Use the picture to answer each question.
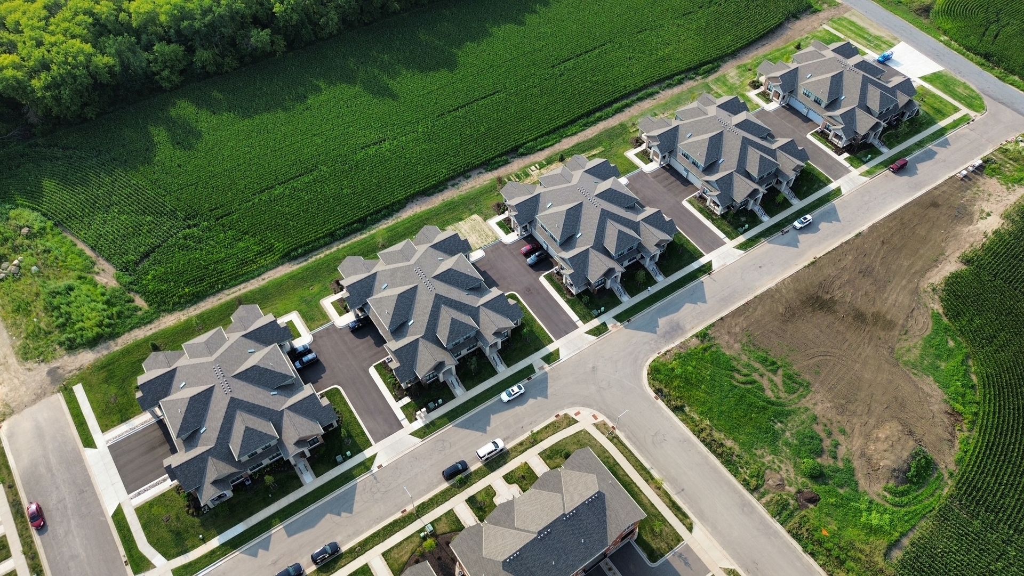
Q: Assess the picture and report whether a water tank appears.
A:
No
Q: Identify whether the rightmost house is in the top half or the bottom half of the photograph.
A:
top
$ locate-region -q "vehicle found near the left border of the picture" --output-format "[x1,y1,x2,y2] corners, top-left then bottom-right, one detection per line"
[28,501,46,531]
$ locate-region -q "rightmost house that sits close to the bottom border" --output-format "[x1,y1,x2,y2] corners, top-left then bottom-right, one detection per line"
[447,444,649,576]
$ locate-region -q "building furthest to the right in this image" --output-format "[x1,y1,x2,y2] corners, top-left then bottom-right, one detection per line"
[756,38,926,153]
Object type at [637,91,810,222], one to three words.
house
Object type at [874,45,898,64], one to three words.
vehicle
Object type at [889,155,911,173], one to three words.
car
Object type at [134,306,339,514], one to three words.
house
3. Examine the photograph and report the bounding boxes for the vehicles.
[473,438,506,463]
[293,350,320,371]
[523,250,548,267]
[498,383,527,405]
[889,155,911,173]
[516,240,541,258]
[792,212,814,230]
[346,314,369,332]
[874,45,898,64]
[28,501,46,531]
[439,458,470,483]
[308,539,343,568]
[289,342,316,358]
